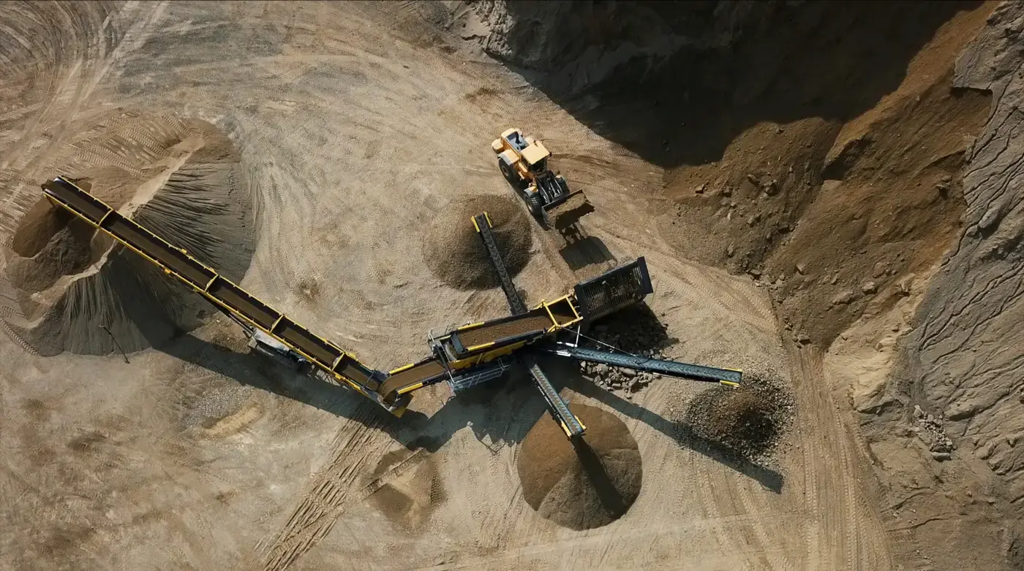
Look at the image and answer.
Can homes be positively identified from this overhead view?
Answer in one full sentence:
No, no home is visible in the scene.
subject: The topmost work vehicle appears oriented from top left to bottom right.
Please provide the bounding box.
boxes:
[492,125,590,235]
